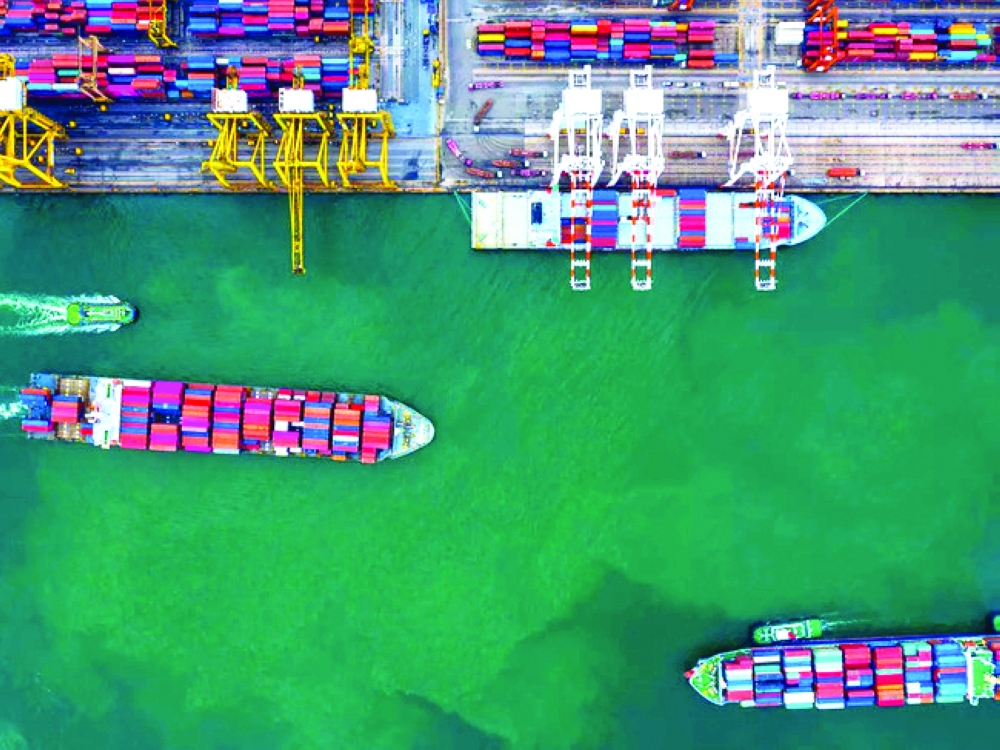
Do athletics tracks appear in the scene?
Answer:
No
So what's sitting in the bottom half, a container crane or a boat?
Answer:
boat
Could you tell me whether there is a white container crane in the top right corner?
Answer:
Yes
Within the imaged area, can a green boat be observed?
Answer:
Yes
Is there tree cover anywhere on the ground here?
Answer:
No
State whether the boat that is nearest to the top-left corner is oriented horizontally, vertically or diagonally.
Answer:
horizontally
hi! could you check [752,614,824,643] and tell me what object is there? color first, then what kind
green boat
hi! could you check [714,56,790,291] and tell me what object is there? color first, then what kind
white container crane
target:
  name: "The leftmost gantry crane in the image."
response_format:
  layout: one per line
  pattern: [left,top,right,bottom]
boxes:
[0,64,66,188]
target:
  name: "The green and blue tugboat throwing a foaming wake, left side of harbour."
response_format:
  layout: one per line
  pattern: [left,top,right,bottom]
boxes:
[65,301,138,326]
